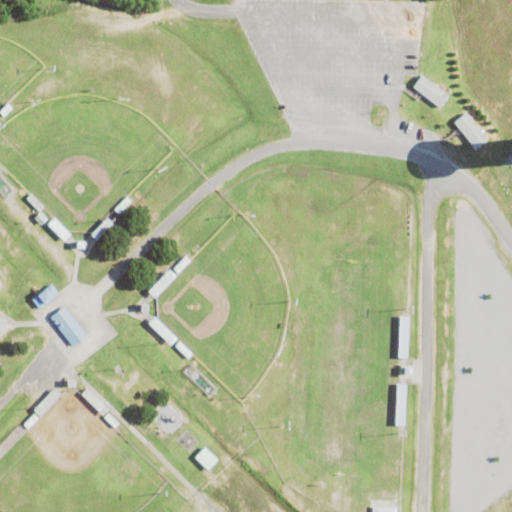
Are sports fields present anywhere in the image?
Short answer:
Yes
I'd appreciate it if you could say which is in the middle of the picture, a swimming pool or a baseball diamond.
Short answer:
baseball diamond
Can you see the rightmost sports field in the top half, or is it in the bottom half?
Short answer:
bottom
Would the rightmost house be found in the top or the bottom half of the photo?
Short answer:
top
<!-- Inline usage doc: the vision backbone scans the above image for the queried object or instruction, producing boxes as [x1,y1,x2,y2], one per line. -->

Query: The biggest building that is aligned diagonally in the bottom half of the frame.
[50,306,87,346]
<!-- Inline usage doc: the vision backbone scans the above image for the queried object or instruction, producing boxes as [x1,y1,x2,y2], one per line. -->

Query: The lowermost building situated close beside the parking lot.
[454,113,488,148]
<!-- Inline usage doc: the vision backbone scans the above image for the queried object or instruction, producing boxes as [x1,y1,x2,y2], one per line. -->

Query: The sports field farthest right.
[291,256,397,480]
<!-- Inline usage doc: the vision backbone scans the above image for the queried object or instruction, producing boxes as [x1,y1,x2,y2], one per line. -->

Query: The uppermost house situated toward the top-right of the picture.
[412,76,449,108]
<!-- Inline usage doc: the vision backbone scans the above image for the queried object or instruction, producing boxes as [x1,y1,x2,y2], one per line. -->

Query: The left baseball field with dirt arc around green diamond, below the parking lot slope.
[0,95,173,232]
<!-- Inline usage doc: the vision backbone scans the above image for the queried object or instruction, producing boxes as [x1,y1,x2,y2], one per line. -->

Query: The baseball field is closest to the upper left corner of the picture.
[0,37,44,112]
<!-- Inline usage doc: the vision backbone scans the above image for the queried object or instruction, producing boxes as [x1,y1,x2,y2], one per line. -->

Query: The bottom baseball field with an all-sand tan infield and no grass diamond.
[0,390,167,512]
